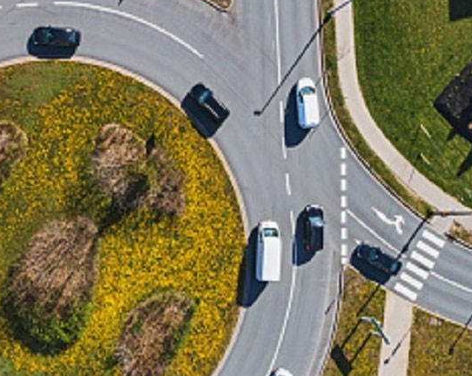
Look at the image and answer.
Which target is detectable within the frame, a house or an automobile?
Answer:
automobile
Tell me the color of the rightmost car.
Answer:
black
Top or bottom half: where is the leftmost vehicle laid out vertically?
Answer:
bottom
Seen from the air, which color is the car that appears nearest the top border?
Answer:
black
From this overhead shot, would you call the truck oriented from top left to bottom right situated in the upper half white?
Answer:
No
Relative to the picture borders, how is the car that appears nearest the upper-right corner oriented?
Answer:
from top to bottom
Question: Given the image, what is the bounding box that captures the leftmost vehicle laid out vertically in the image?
[254,223,280,279]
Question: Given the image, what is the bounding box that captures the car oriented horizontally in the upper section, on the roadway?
[29,25,80,49]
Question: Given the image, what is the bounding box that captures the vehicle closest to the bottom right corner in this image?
[351,246,399,278]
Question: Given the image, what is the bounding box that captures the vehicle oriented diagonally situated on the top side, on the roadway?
[186,82,232,128]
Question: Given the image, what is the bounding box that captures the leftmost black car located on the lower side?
[301,205,324,251]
